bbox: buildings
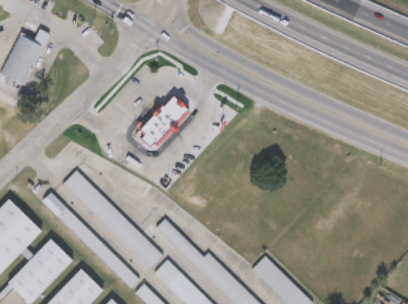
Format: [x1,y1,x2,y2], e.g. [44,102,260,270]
[254,256,313,304]
[7,238,74,304]
[0,199,43,275]
[2,28,50,84]
[135,282,168,304]
[65,170,164,268]
[136,97,188,144]
[46,268,104,304]
[156,258,216,304]
[46,196,141,288]
[156,218,266,304]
